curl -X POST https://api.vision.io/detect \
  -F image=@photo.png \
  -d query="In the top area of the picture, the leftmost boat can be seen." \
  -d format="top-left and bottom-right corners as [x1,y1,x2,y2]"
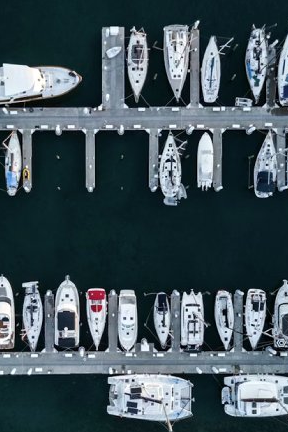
[0,131,21,194]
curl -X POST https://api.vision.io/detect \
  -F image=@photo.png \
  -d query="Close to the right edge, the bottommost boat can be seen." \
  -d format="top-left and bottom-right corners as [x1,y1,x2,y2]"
[214,373,288,418]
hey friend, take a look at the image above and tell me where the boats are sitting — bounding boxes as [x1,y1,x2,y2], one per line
[120,27,154,107]
[197,130,213,189]
[107,370,199,432]
[243,288,282,351]
[148,291,176,349]
[246,22,288,105]
[198,33,233,107]
[179,185,188,200]
[180,290,211,351]
[0,274,16,351]
[278,31,288,107]
[0,63,84,108]
[215,290,255,351]
[19,280,42,351]
[155,25,194,106]
[254,129,288,197]
[118,289,138,351]
[54,275,79,353]
[162,197,179,206]
[0,131,21,194]
[221,387,230,405]
[158,130,187,198]
[262,278,288,350]
[86,288,107,351]
[214,373,288,418]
